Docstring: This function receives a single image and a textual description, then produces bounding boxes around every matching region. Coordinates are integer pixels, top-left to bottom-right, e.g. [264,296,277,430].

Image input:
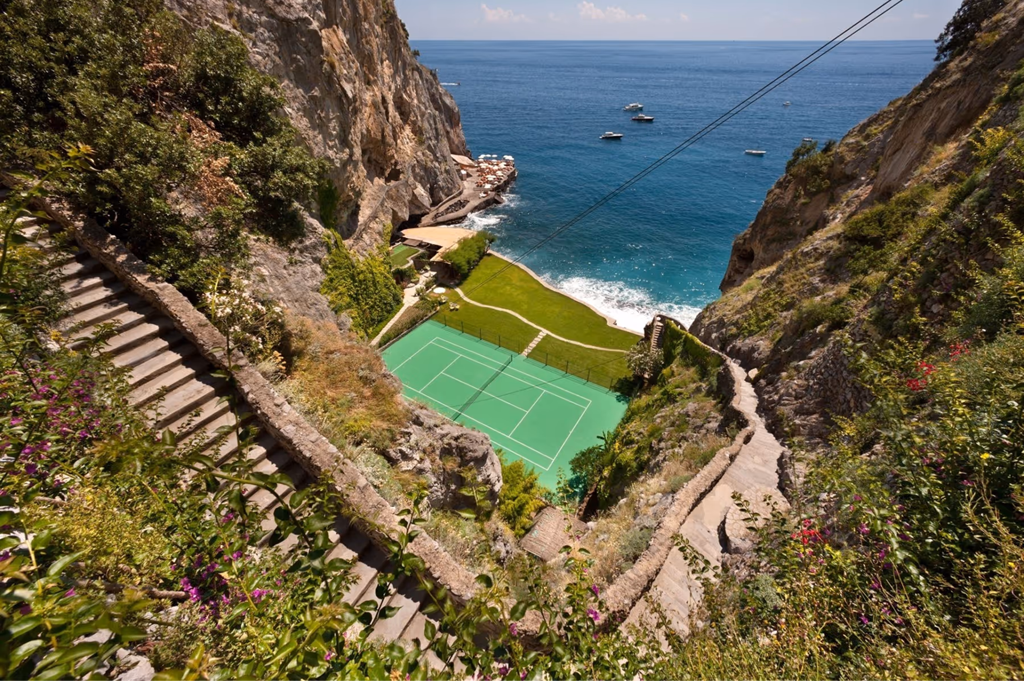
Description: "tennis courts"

[378,320,630,515]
